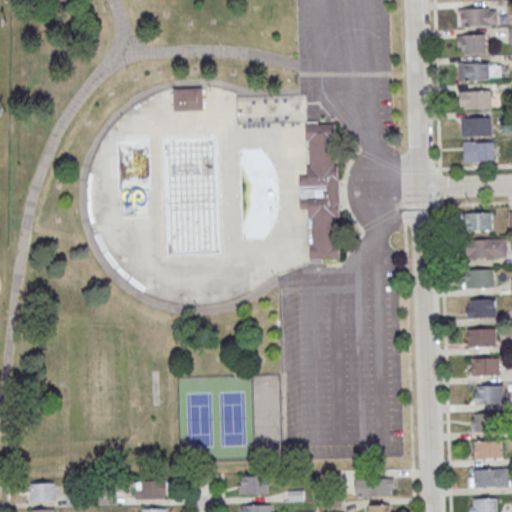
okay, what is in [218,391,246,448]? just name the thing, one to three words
tennis court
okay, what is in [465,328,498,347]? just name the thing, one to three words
house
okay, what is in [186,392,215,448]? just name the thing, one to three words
tennis court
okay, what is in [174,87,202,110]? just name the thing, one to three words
building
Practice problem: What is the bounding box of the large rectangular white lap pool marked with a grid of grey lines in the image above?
[164,137,220,256]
